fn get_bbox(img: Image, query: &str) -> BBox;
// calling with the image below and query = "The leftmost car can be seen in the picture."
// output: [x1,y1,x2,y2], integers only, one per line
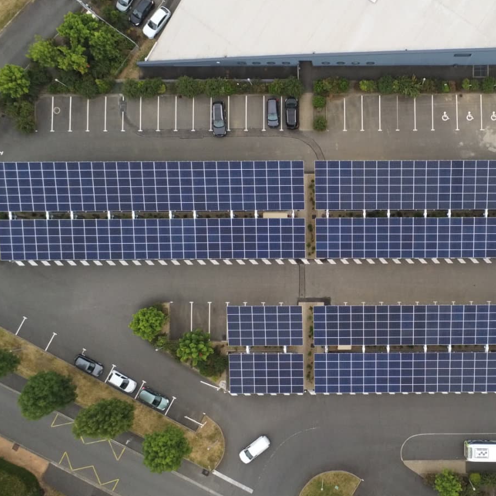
[73,353,104,377]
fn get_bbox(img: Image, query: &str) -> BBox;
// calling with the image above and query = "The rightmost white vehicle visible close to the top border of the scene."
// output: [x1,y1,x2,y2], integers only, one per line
[145,5,171,39]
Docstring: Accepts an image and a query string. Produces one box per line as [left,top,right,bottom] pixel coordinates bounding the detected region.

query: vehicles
[240,434,271,464]
[211,101,226,136]
[266,99,280,128]
[130,0,155,26]
[137,386,171,410]
[106,369,136,392]
[283,97,299,129]
[462,439,496,462]
[145,5,171,39]
[73,353,104,377]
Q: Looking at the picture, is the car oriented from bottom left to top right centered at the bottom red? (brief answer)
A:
No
